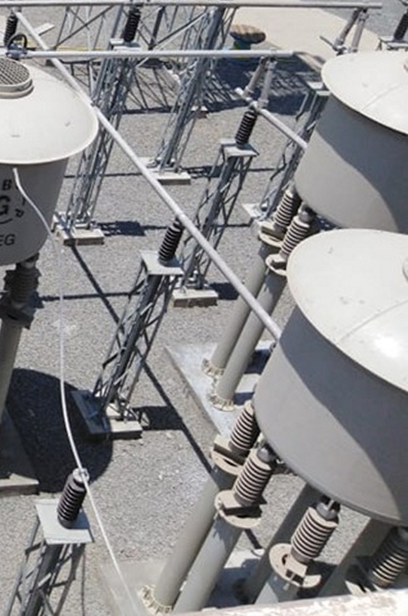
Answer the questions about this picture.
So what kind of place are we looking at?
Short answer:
industrial area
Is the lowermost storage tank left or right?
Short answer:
right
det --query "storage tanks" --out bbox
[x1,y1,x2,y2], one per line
[258,309,408,518]
[0,159,70,262]
[297,90,408,234]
